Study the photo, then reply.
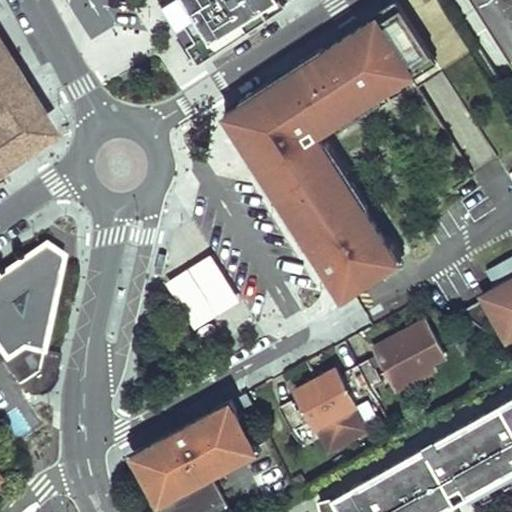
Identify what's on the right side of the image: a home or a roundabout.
home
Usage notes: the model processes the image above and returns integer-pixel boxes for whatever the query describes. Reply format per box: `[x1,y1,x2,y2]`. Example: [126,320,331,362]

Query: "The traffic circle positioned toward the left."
[94,138,148,192]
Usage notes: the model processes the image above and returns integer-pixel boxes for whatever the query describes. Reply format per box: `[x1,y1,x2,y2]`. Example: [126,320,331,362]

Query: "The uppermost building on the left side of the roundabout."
[0,40,60,179]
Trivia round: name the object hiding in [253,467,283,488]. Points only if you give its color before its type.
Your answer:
white truck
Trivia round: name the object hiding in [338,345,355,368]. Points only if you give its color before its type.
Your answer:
white car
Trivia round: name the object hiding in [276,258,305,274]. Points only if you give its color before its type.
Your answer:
white vehicle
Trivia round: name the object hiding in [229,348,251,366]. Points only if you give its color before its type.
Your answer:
white car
